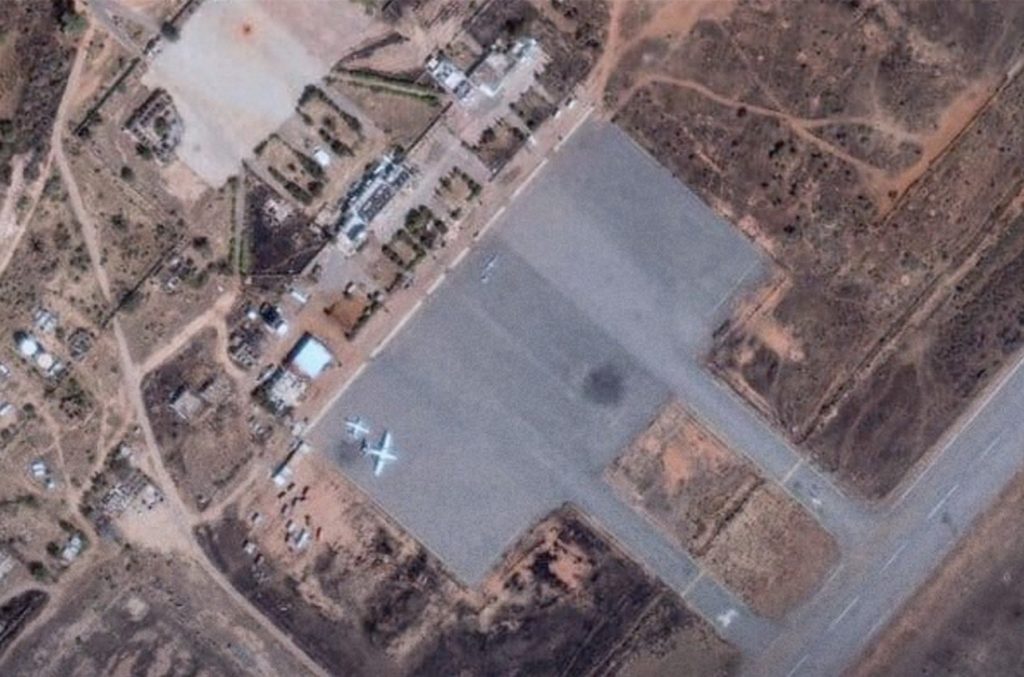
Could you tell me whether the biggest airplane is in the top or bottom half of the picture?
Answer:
bottom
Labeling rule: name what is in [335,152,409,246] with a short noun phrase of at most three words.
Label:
building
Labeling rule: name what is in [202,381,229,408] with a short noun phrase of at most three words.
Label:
house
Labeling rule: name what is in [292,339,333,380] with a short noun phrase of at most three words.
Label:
hangar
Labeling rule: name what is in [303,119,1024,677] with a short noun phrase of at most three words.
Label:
airport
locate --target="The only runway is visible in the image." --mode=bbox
[749,358,1024,677]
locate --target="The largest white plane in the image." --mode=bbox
[362,432,397,475]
